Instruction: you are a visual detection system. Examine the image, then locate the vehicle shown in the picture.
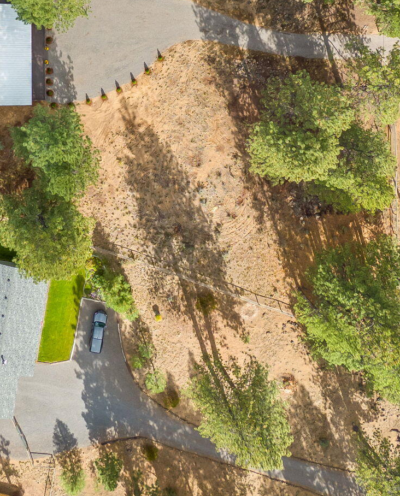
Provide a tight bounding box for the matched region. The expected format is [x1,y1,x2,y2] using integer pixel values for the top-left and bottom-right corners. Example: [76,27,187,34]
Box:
[90,309,108,353]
